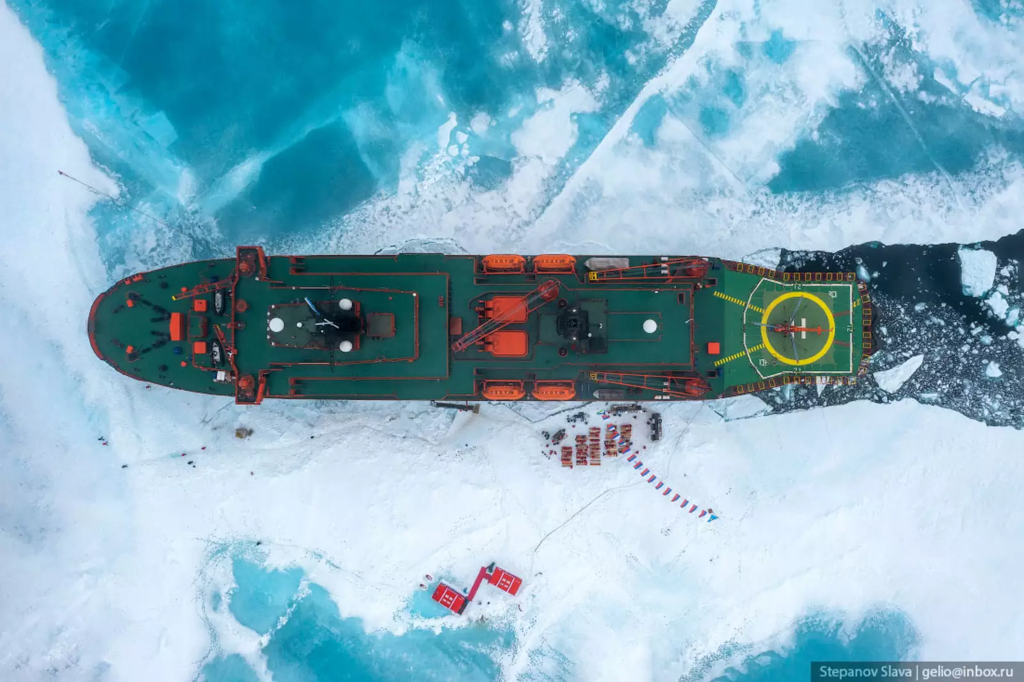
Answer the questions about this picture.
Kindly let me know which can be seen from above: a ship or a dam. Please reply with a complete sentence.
It is a ship that can be seen here.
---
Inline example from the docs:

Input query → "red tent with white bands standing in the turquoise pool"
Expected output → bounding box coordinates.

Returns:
[432,580,466,612]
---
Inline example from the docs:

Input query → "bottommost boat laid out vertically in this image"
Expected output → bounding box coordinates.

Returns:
[211,339,223,367]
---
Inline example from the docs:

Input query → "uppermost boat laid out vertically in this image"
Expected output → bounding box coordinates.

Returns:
[213,288,225,315]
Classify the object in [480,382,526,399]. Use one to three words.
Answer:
boat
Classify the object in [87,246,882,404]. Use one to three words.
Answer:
ship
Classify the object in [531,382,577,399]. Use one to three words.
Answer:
boat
